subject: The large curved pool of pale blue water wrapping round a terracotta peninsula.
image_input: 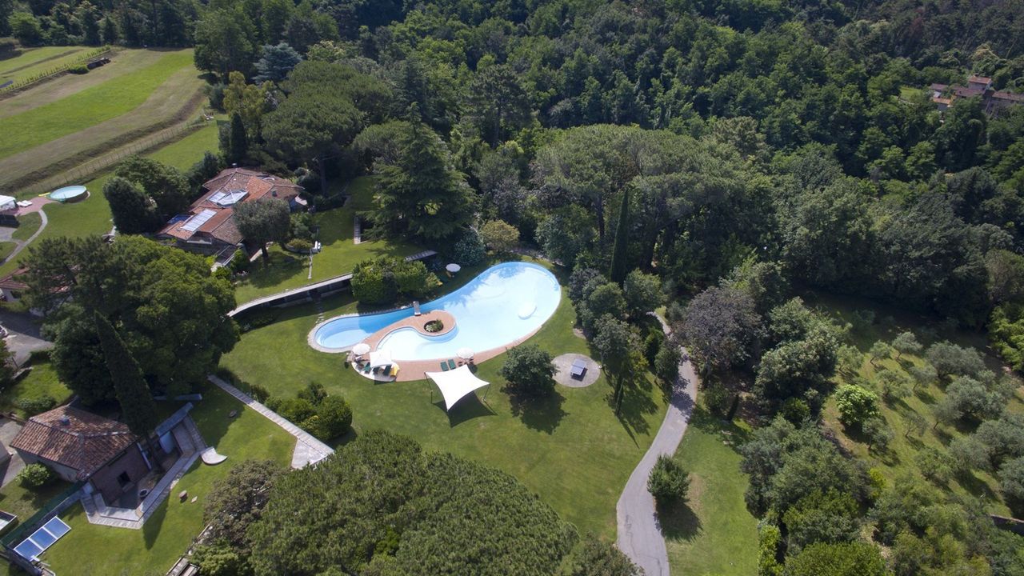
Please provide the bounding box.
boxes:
[307,261,563,362]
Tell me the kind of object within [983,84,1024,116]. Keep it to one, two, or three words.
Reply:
house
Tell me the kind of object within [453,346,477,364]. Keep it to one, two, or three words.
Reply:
umbrella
